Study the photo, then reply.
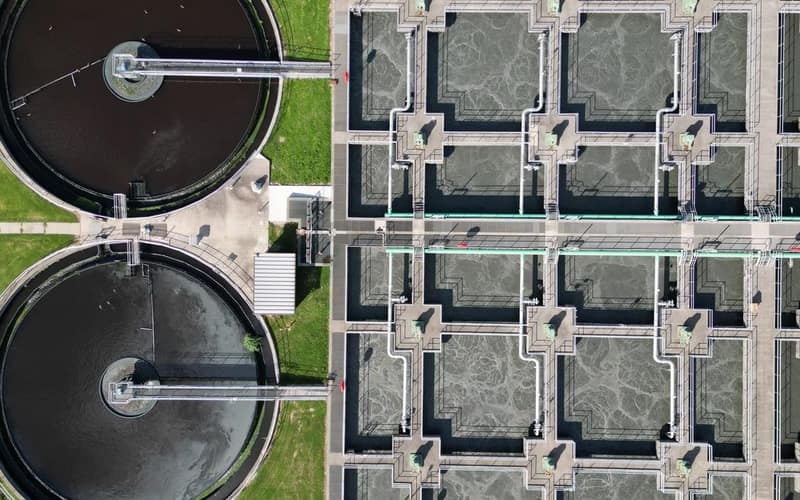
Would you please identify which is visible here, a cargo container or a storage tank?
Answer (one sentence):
I can see a storage tank in this picture.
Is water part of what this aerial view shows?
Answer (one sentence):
Yes, there is water in the image.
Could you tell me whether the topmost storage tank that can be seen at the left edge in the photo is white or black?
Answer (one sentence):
The topmost storage tank that can be seen at the left edge looks black in the image.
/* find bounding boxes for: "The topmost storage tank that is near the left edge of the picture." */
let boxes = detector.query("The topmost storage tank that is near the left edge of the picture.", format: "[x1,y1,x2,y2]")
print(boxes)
[0,0,280,219]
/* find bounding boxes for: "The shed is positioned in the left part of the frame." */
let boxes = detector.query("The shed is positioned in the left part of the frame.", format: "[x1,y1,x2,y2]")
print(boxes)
[252,253,301,314]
